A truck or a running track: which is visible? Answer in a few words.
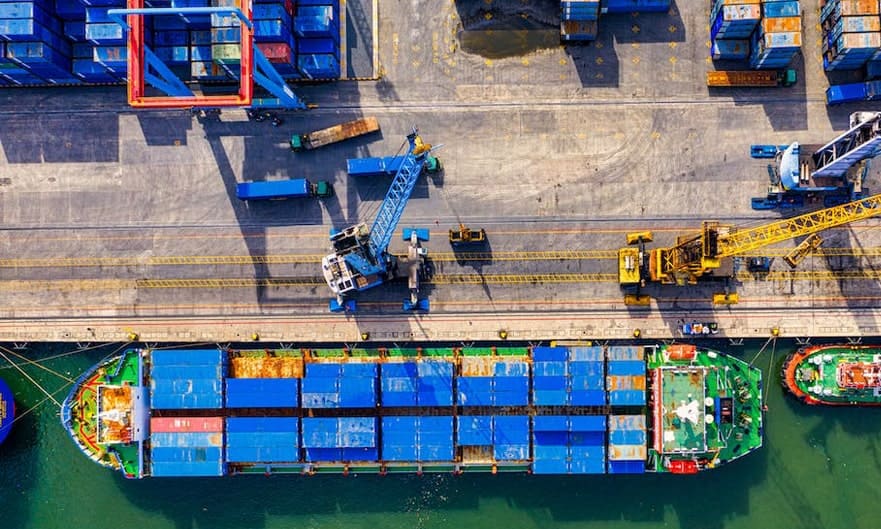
truck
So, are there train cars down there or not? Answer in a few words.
No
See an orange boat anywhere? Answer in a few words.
Yes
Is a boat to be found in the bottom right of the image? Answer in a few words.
Yes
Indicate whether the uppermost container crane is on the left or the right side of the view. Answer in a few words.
left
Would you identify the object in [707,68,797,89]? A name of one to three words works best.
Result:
vehicle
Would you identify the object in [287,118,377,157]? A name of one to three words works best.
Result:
truck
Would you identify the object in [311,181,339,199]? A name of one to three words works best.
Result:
vehicle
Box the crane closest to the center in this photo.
[322,133,468,311]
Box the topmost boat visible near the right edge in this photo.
[777,344,881,407]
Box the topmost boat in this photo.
[662,345,698,363]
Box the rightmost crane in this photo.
[751,104,881,210]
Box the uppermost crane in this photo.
[114,0,317,113]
